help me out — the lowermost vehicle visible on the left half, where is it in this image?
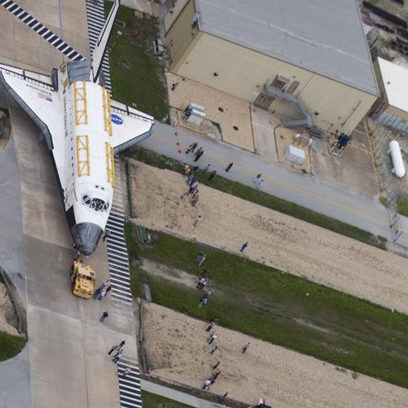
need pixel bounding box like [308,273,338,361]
[70,257,96,304]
